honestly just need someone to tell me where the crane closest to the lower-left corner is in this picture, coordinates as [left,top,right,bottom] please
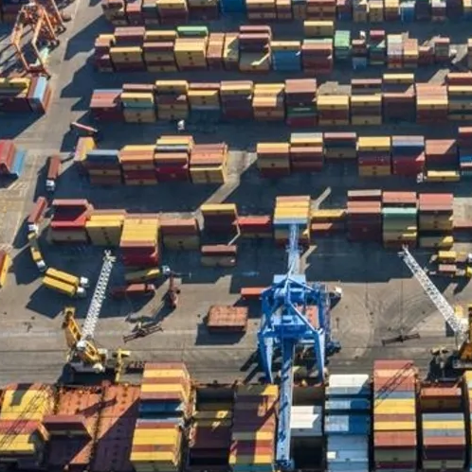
[69,254,117,384]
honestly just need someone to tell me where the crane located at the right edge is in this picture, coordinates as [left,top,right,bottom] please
[398,249,472,380]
